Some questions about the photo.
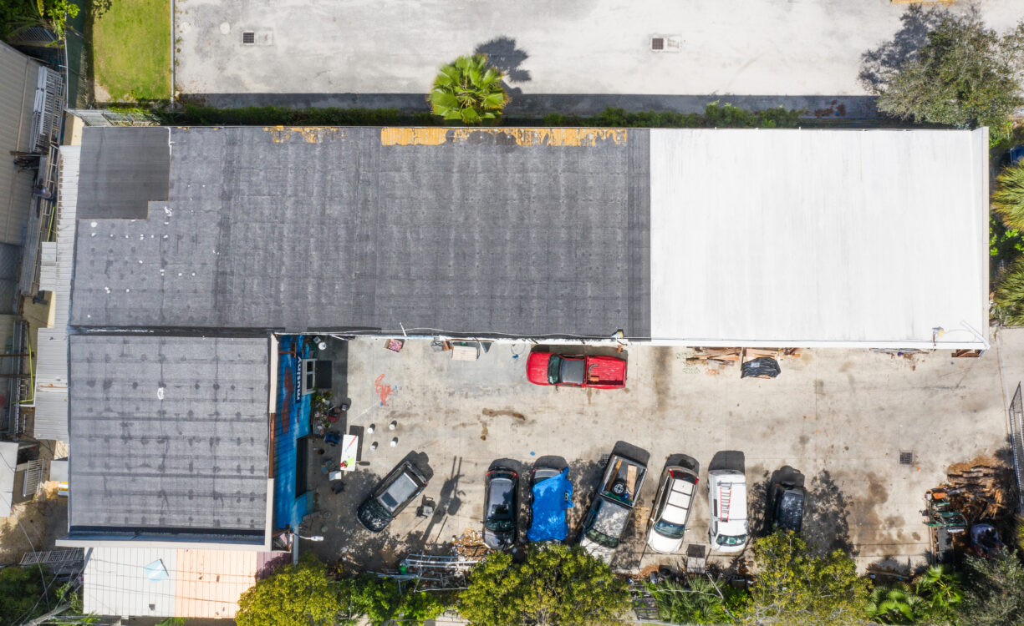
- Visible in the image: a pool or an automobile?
automobile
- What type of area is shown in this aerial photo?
industrial area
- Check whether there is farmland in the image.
No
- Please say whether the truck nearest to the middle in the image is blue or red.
red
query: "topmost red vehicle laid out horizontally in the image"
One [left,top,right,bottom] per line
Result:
[527,352,629,393]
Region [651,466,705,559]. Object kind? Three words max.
car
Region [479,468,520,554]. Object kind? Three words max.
car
